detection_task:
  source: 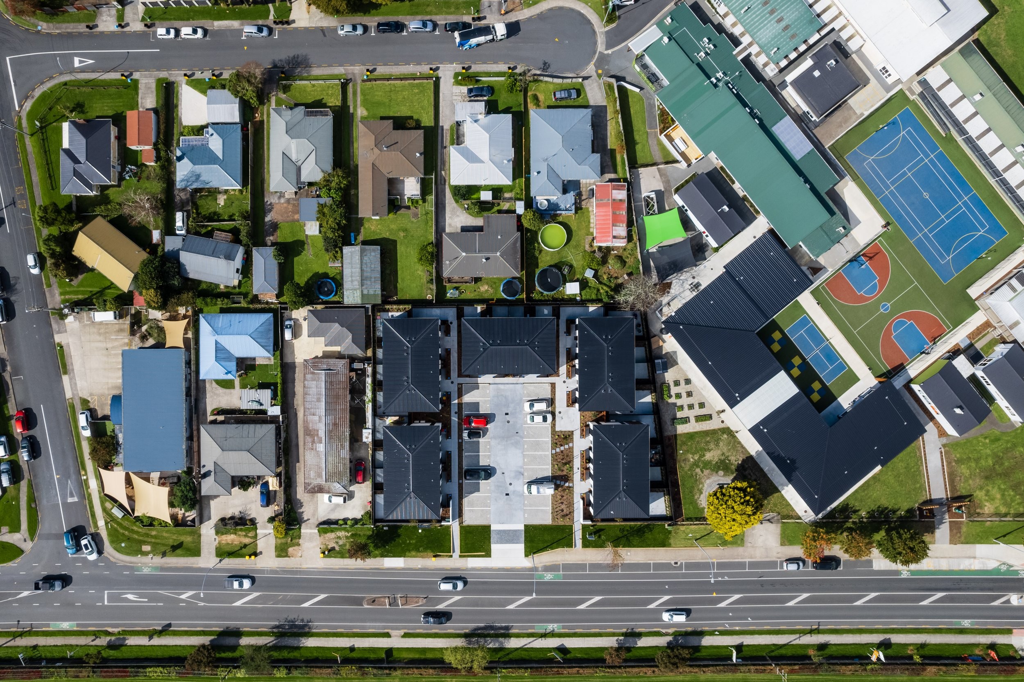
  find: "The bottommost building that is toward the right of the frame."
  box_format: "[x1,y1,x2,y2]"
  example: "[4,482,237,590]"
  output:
[590,421,650,519]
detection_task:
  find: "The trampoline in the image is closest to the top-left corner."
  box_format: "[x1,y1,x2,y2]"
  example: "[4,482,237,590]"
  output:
[314,278,336,299]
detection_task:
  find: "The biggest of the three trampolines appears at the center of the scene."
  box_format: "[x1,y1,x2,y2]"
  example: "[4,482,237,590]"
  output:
[535,266,563,293]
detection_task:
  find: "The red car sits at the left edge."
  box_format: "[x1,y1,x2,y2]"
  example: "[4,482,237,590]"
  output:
[15,410,31,433]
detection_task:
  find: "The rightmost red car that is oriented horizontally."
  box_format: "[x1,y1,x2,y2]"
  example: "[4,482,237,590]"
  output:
[463,416,488,428]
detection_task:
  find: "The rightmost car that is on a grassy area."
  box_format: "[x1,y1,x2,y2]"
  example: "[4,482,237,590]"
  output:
[552,87,577,102]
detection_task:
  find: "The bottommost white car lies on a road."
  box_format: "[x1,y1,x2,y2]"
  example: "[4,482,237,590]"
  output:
[662,609,687,623]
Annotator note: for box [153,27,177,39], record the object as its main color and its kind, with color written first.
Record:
white vehicle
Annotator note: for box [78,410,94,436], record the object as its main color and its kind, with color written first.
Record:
white car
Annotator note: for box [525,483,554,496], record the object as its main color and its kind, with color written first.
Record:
white vehicle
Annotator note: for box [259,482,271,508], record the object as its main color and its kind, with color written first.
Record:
blue vehicle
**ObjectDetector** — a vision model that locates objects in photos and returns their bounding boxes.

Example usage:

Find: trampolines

[314,278,336,299]
[500,278,521,299]
[535,266,563,293]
